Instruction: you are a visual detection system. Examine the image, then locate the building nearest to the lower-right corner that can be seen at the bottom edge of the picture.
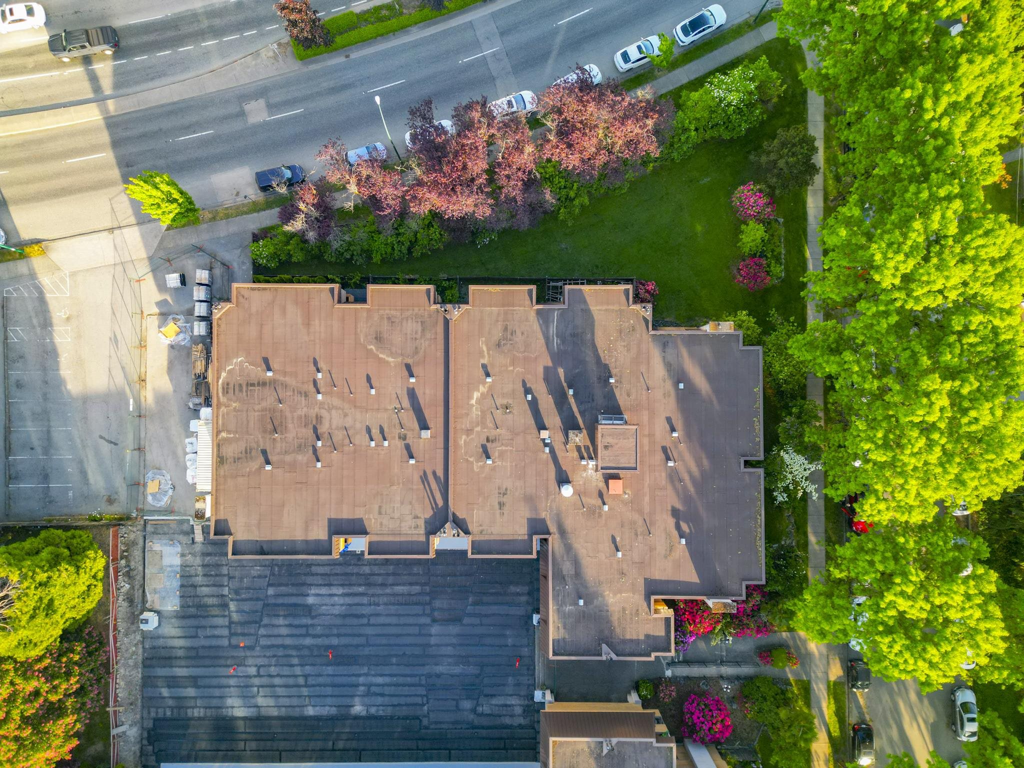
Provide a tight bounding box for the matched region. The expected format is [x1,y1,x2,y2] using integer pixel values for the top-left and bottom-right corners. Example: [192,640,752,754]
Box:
[540,685,738,768]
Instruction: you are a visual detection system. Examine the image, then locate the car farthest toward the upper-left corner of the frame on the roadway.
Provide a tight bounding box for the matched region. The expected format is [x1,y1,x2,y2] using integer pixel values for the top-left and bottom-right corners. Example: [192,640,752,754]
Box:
[0,5,53,36]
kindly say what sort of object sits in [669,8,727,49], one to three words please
car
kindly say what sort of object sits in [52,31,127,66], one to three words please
truck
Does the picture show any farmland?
No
